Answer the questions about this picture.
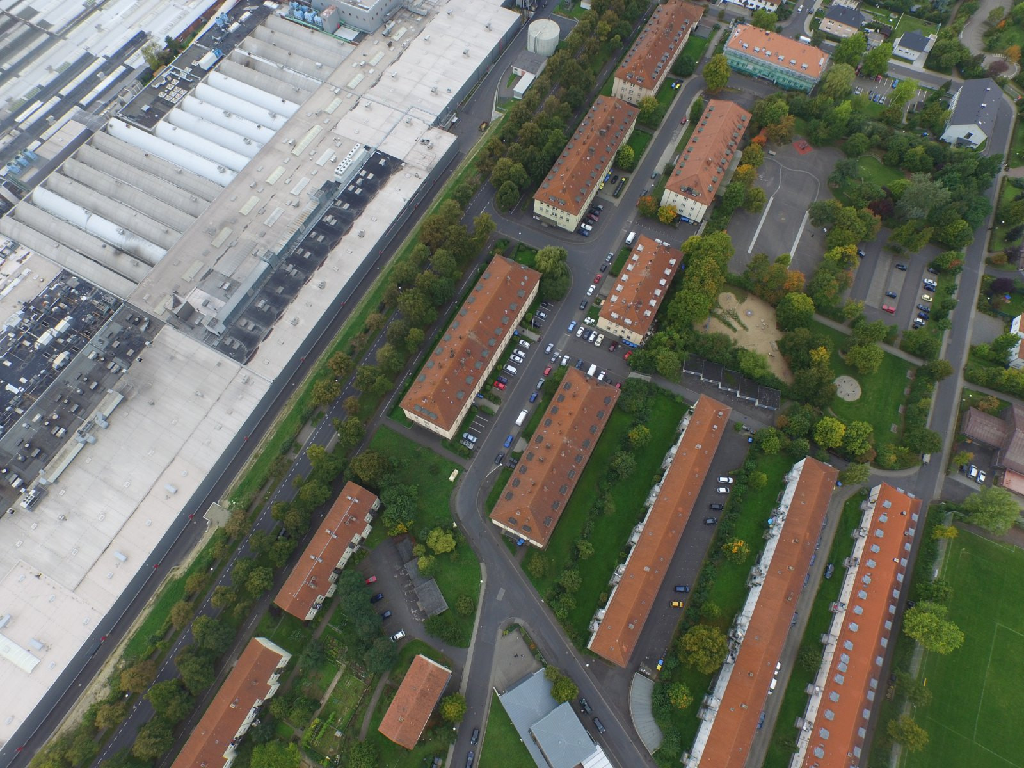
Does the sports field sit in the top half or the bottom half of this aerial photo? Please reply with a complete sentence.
Seen from above, the sports field lies in the bottom half of the view.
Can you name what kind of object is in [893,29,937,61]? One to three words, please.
house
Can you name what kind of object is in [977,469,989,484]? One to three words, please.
vehicle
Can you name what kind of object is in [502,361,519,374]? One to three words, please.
vehicle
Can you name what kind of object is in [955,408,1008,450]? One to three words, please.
building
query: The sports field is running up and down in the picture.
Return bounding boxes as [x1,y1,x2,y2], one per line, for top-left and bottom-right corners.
[908,530,1024,768]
